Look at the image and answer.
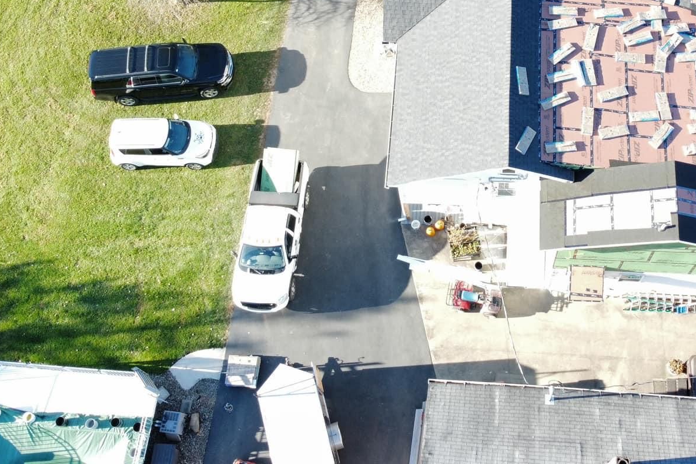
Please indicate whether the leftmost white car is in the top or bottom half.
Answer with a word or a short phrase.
top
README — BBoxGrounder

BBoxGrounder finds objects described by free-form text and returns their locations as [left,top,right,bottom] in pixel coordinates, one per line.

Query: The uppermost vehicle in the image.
[88,37,239,106]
